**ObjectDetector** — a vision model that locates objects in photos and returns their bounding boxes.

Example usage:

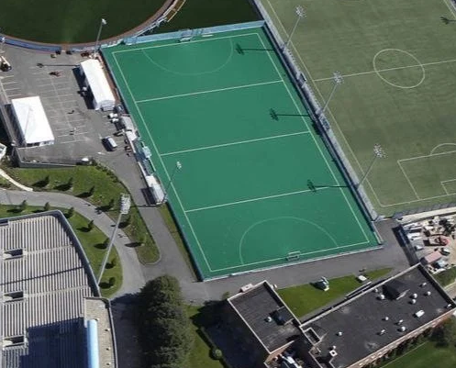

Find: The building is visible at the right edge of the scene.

[295,263,456,368]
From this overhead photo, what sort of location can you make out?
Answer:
sports ground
